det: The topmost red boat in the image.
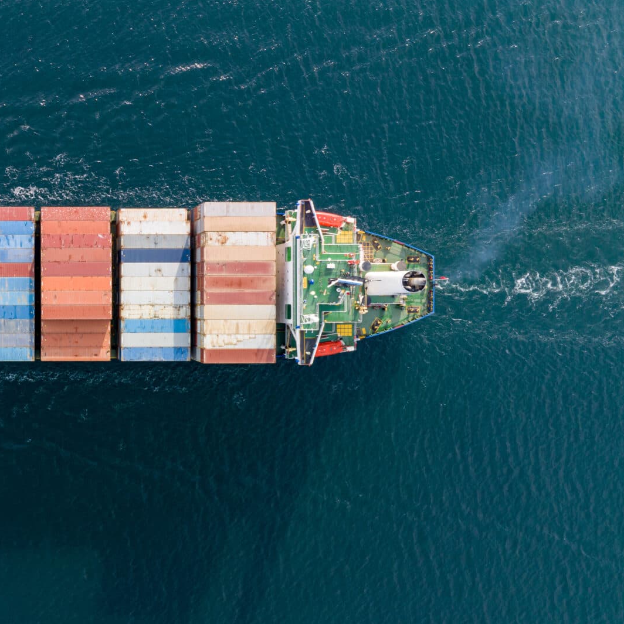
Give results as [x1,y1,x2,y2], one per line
[318,212,344,229]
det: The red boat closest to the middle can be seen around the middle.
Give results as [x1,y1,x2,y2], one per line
[317,341,344,358]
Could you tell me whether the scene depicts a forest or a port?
port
